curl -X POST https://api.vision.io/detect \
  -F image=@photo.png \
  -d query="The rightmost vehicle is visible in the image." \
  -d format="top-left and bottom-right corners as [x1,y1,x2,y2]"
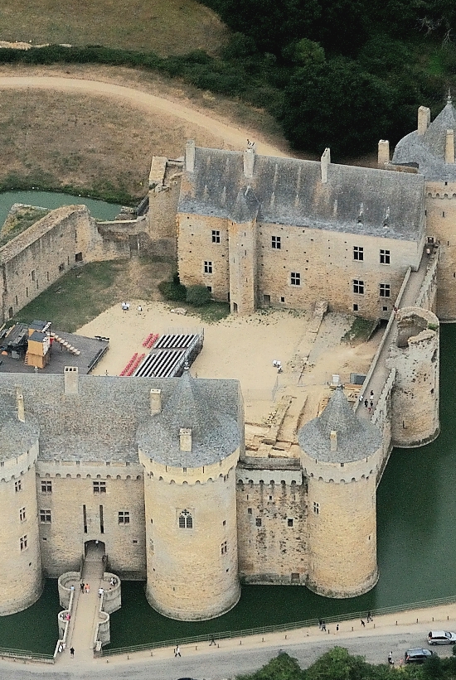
[426,628,456,646]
